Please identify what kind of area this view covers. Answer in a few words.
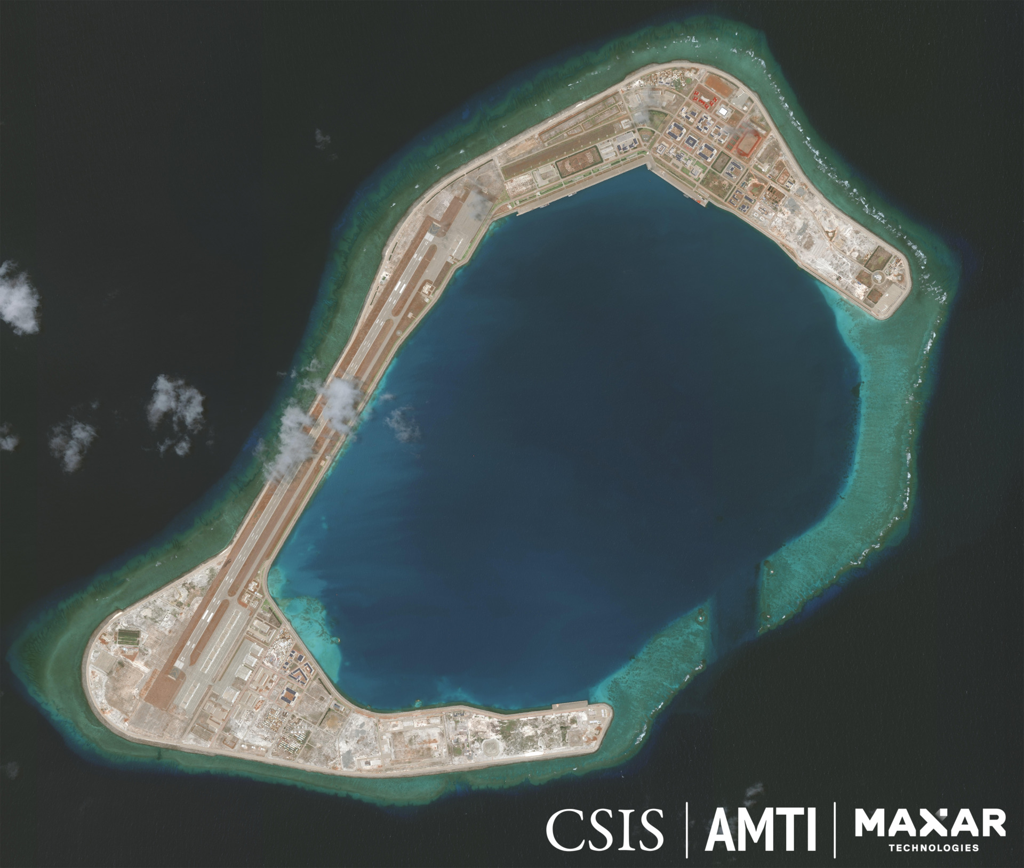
port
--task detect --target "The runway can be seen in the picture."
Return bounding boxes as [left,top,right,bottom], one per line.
[166,218,442,683]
